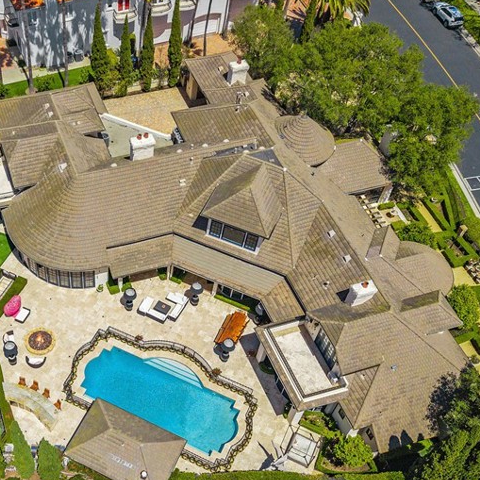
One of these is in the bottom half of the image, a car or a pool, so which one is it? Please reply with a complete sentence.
What appears in the bottom half of the image is a pool.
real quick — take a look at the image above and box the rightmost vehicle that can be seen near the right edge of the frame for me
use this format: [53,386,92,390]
[435,1,466,27]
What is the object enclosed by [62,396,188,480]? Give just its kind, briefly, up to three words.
building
